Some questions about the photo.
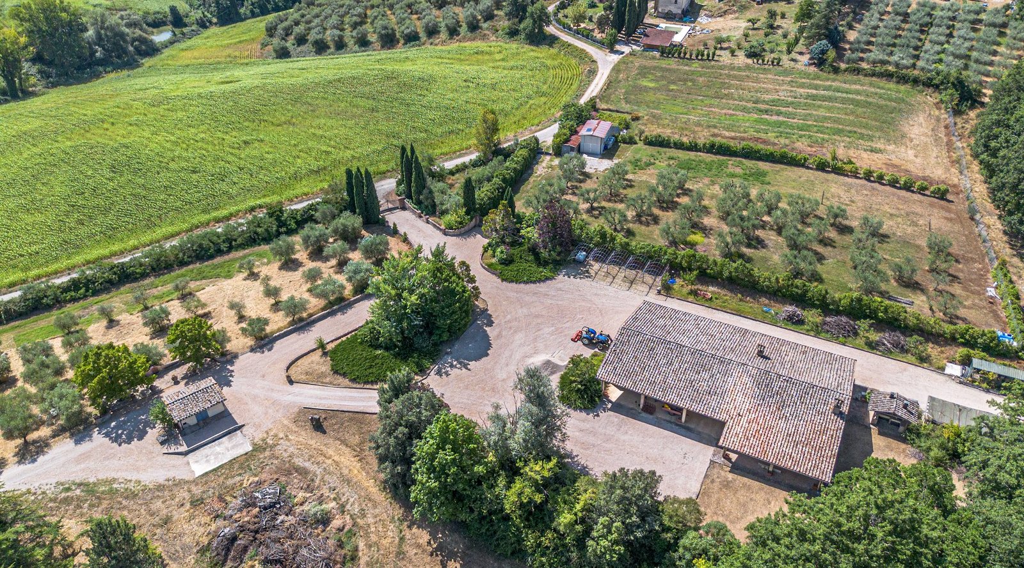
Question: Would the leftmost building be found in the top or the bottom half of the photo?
bottom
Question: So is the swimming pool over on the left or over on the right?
right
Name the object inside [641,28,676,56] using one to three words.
building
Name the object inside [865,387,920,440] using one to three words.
building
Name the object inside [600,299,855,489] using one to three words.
barn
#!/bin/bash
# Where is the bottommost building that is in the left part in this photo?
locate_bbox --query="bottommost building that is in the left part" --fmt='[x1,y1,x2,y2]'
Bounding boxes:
[162,377,227,438]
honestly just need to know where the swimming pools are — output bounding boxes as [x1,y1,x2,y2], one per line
[654,23,694,44]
